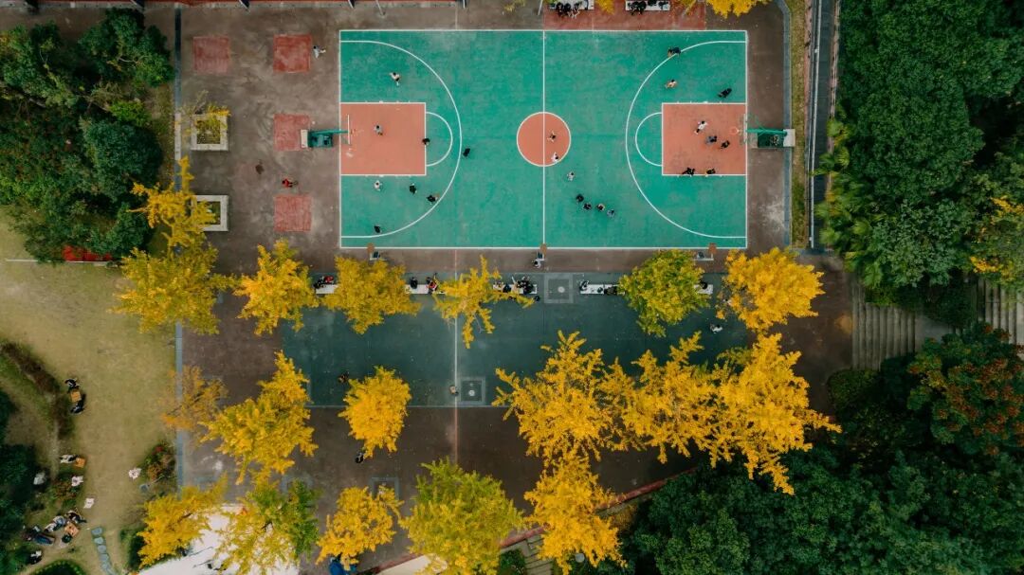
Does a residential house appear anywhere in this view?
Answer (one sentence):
No, no residential house is visible in the scene.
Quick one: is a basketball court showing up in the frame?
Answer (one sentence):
Yes, this view includes a basketball court.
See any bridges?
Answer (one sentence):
No, I can see no bridge in this picture.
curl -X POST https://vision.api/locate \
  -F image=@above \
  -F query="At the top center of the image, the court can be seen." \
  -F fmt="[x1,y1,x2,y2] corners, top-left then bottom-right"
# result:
[340,30,748,248]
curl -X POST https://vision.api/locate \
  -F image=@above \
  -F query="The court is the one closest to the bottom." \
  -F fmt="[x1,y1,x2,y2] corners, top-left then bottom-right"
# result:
[283,273,750,408]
